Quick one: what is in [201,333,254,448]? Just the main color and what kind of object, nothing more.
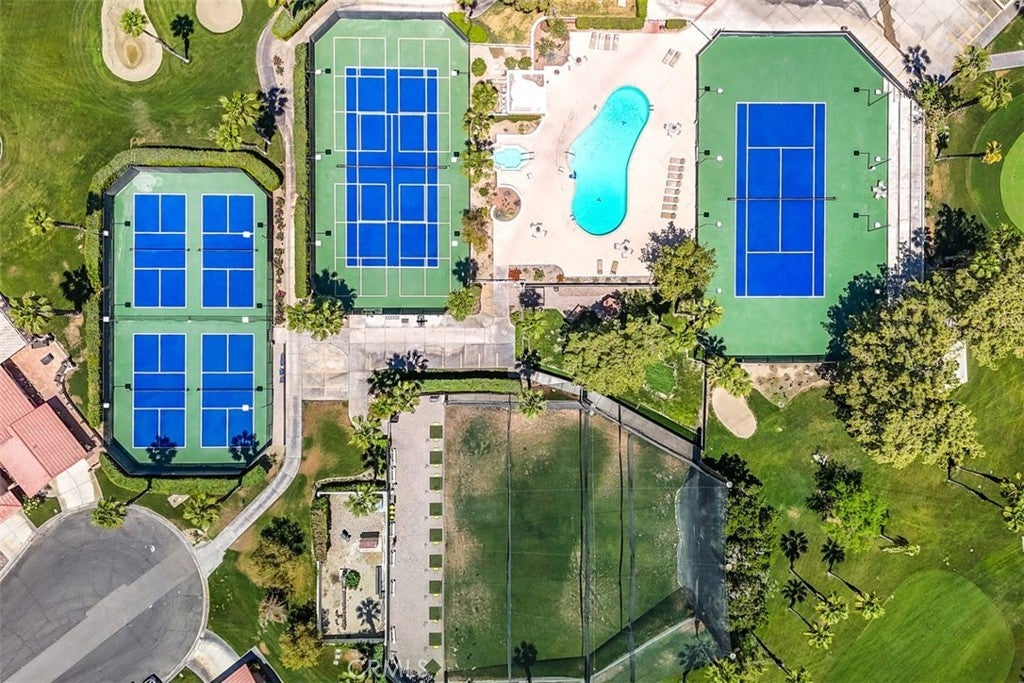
blue sports court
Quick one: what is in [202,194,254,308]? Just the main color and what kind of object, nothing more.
blue sports court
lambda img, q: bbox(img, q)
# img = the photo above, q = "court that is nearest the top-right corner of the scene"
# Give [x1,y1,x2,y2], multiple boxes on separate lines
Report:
[698,34,889,358]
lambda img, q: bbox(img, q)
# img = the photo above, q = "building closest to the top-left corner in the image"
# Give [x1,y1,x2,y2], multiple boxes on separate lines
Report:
[0,307,34,364]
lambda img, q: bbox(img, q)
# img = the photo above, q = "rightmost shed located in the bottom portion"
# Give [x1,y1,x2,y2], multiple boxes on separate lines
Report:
[356,536,379,553]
